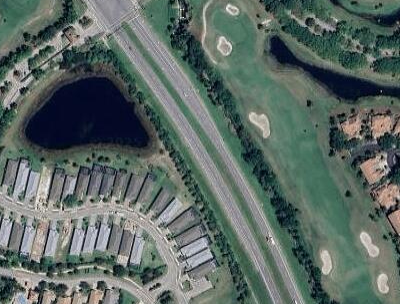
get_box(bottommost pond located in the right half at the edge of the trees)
[268,35,400,103]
